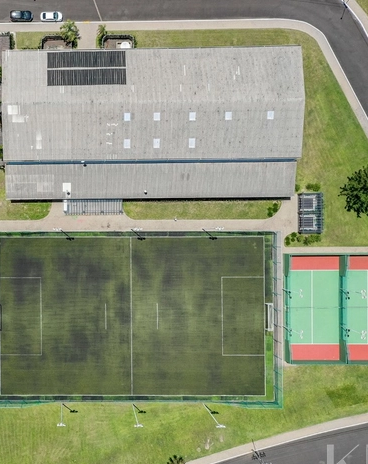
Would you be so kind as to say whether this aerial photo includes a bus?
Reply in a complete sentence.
No, I can see no bus in this picture.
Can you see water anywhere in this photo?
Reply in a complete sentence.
No, there's no water in this view.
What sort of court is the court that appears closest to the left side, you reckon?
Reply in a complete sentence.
From above, the court that appears closest to the left side can be identified as a tennis court.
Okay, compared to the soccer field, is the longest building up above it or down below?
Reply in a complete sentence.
The longest building is located above the soccer field in this view.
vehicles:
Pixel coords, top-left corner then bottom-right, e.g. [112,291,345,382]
[9,8,32,20]
[40,8,63,20]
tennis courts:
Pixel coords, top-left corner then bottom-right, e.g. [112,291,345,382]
[284,254,348,363]
[340,254,368,363]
